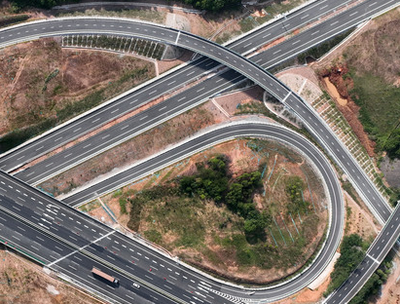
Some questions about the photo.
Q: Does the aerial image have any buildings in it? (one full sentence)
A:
No, there isn't any building down there.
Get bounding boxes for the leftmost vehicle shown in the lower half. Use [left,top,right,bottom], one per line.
[93,269,117,283]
